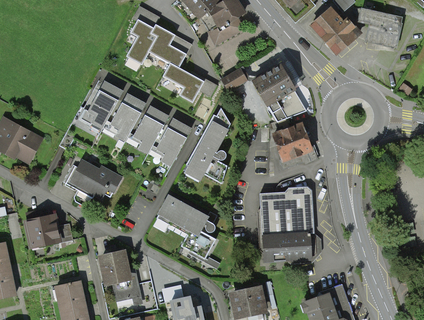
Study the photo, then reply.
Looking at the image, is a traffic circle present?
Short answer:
Yes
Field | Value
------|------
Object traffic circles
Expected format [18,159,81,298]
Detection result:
[322,81,391,150]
